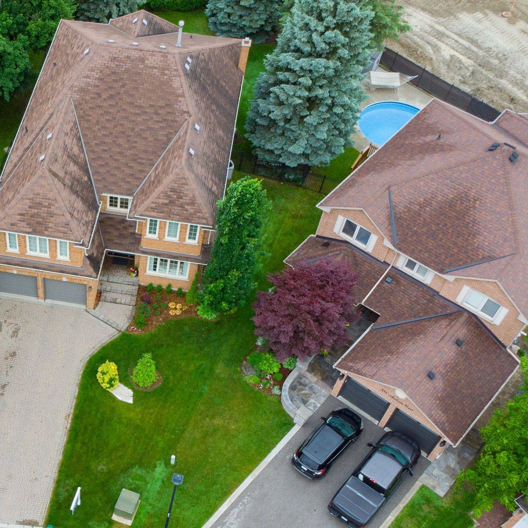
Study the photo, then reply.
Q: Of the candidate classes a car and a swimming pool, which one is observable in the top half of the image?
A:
swimming pool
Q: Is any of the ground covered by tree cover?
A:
Yes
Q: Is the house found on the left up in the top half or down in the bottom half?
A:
top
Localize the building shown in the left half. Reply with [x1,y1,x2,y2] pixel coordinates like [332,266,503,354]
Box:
[0,4,260,312]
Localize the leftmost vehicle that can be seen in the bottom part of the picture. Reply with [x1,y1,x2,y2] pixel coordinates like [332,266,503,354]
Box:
[291,407,366,488]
